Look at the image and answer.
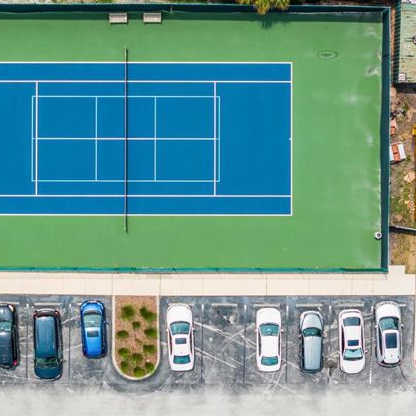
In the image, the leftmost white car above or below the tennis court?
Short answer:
below it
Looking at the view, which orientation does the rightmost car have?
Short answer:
up and down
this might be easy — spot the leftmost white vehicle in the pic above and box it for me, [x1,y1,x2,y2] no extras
[165,303,196,371]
